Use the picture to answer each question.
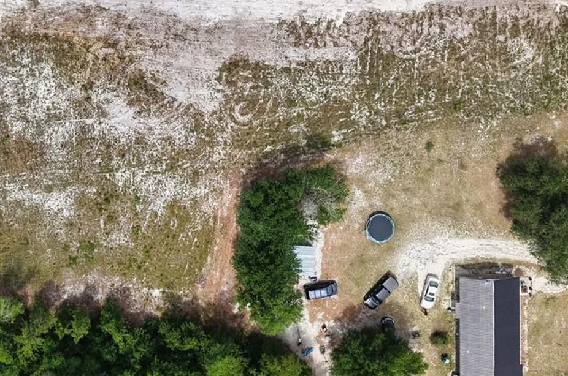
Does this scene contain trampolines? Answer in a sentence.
Yes, there is a trampoline in the image.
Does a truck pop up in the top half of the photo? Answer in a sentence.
No, looking in the top half of the photo, there is no truck.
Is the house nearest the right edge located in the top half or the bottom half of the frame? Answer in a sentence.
The bottom half of the photo is where the house nearest the right edge is.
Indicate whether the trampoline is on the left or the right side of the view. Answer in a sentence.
The trampoline sits on the right side.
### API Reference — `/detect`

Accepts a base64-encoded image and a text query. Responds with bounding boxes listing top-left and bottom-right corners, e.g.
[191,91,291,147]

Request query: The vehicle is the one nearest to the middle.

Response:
[305,278,338,299]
